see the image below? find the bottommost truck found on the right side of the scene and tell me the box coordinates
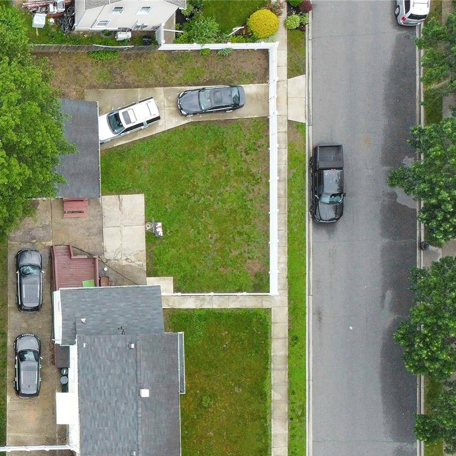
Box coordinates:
[306,144,345,224]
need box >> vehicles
[101,97,161,145]
[14,248,45,312]
[13,334,43,399]
[306,144,345,224]
[390,0,427,31]
[173,86,242,119]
